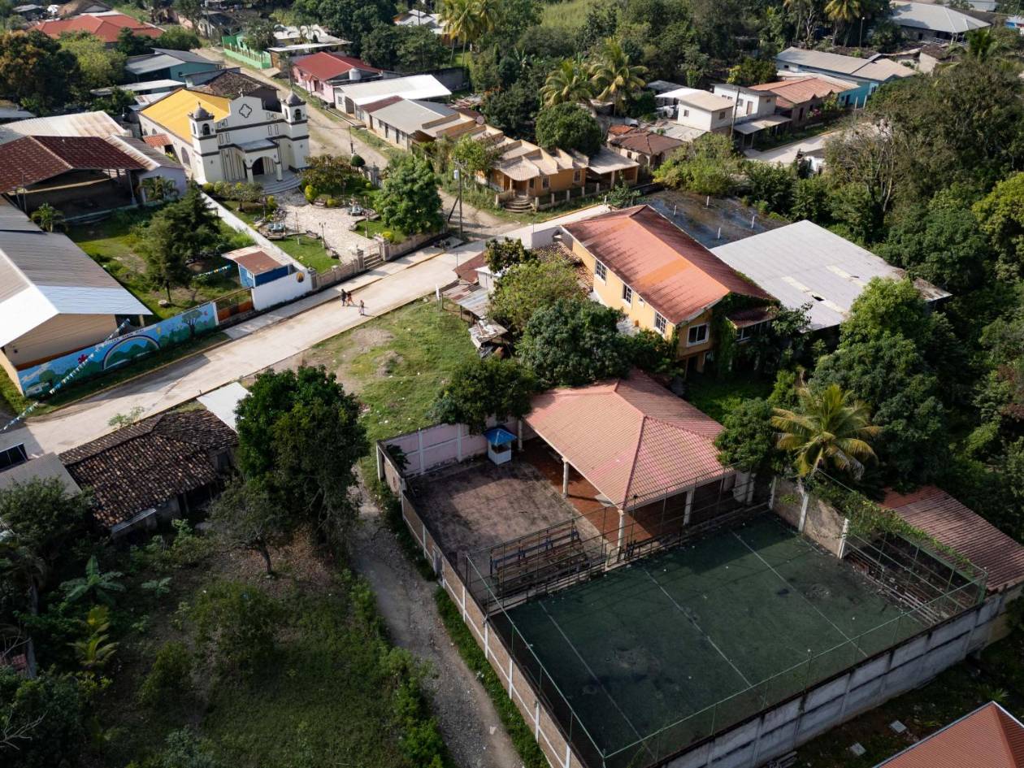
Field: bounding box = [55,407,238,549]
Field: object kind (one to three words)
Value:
house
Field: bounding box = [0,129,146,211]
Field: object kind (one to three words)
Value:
building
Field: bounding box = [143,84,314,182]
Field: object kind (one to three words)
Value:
building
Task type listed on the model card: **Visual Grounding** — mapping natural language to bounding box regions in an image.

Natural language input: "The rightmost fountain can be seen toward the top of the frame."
[339,197,375,217]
